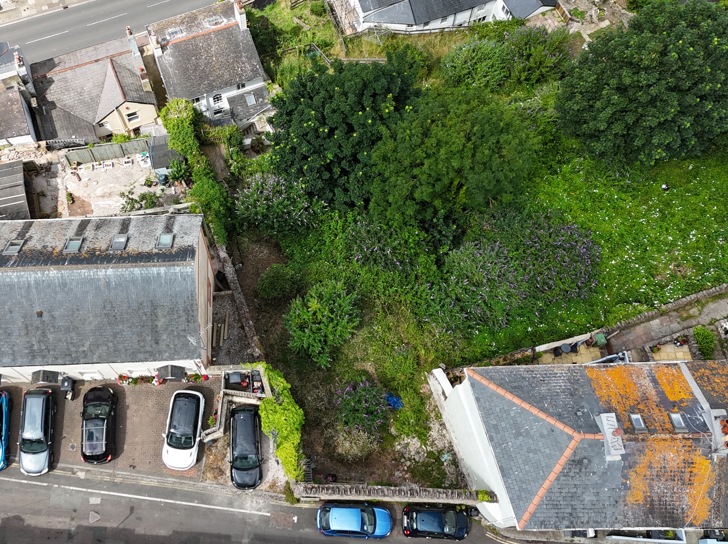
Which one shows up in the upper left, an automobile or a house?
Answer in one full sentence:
What appears in the upper left is a house.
